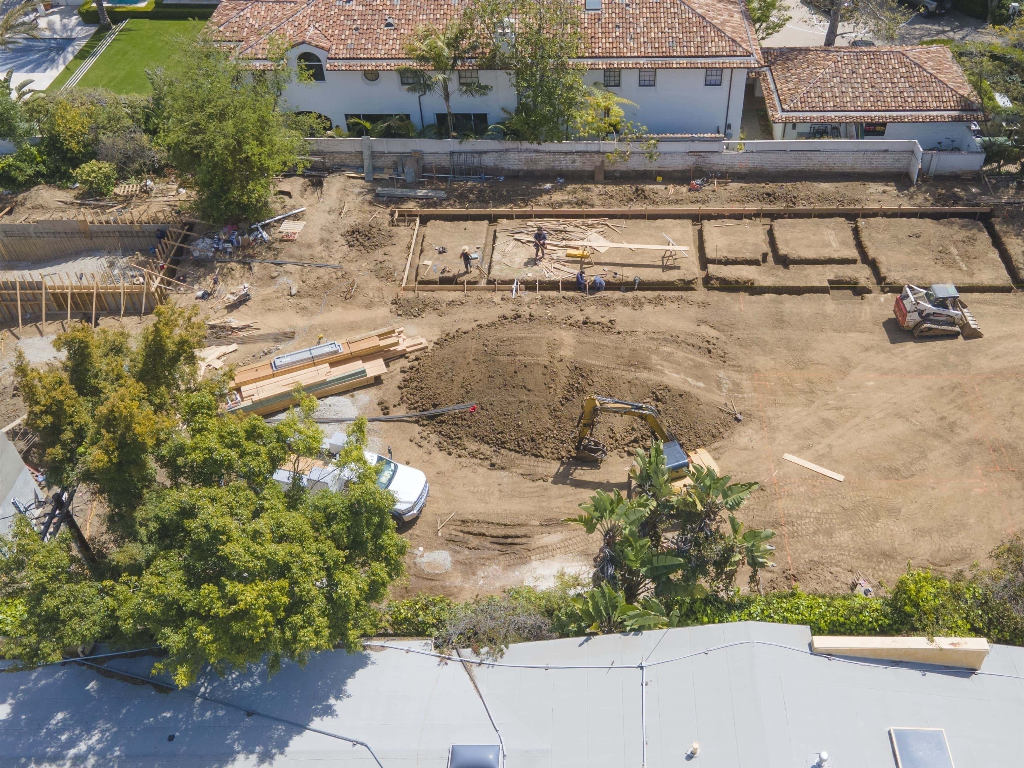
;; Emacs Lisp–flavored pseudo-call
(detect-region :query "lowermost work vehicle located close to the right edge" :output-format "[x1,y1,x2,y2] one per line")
[893,280,990,345]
